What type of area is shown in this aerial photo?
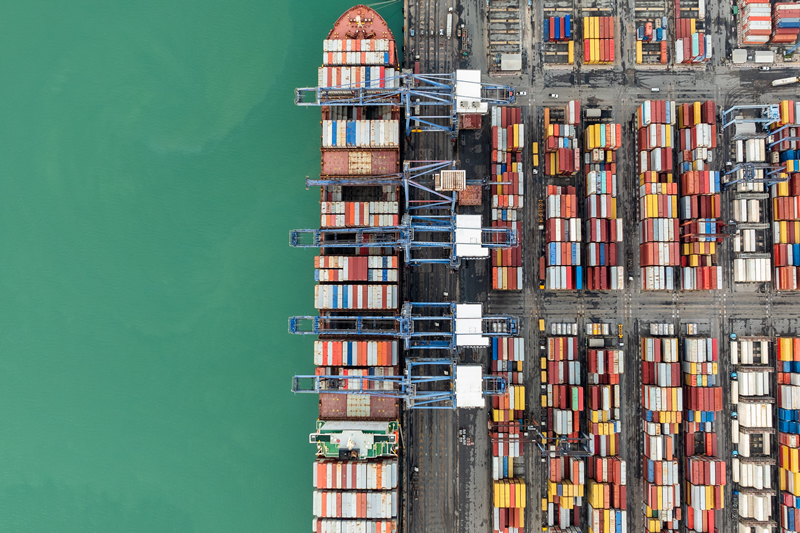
port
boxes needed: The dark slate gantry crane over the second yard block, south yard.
[538,428,592,457]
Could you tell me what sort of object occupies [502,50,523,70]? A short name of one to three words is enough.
shed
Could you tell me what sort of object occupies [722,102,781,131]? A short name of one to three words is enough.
container crane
